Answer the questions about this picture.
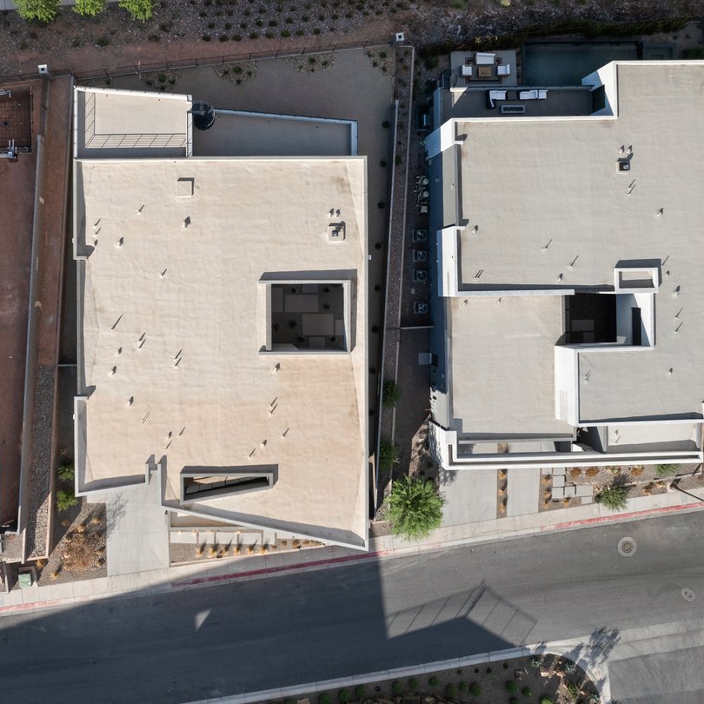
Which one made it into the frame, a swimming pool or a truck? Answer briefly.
swimming pool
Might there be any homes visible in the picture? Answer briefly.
Yes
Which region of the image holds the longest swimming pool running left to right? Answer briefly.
top right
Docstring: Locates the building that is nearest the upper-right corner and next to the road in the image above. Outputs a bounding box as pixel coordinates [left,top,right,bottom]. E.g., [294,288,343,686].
[418,60,704,470]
